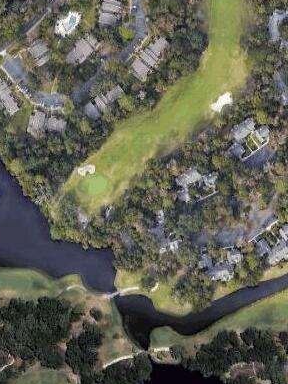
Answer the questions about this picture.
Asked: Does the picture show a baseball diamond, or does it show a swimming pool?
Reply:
swimming pool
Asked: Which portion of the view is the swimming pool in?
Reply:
top left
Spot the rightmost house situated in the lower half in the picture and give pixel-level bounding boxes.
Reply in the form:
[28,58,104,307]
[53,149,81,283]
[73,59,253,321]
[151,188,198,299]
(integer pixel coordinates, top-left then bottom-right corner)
[253,223,288,266]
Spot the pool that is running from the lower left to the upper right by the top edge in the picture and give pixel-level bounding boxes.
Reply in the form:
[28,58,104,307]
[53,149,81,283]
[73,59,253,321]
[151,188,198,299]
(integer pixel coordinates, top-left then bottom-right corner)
[56,11,82,37]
